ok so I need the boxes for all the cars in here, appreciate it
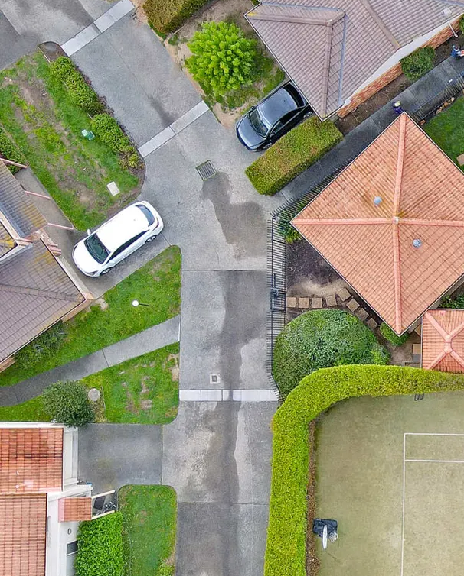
[72,201,165,272]
[231,80,316,151]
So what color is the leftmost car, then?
white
